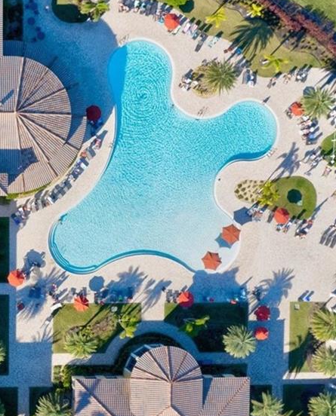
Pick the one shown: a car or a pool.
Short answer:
pool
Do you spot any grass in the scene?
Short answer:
Yes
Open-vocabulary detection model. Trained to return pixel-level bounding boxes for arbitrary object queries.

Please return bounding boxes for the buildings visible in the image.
[0,0,88,194]
[72,338,250,416]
